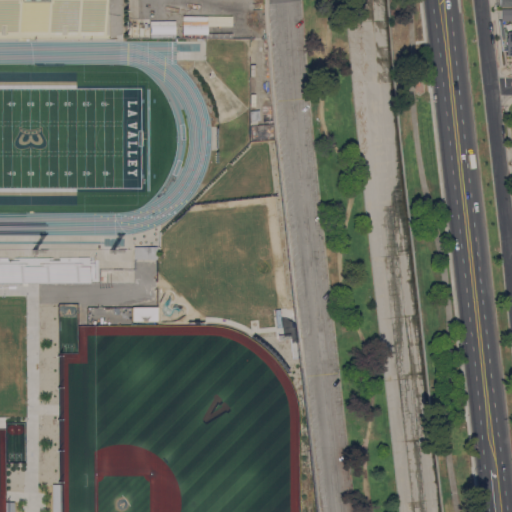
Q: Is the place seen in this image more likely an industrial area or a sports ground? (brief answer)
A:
sports ground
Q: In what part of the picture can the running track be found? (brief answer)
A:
top left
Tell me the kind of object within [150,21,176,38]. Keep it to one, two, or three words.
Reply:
shed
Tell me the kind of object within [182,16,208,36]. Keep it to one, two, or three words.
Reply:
building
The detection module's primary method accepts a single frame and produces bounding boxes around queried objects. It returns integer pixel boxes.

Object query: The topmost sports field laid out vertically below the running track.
[0,297,26,418]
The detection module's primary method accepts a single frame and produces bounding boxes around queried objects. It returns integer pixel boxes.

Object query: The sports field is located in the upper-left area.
[0,64,178,212]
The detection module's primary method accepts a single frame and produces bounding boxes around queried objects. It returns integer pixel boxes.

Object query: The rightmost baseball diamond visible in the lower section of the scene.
[60,326,300,512]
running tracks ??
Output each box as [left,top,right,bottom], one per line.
[0,42,211,234]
